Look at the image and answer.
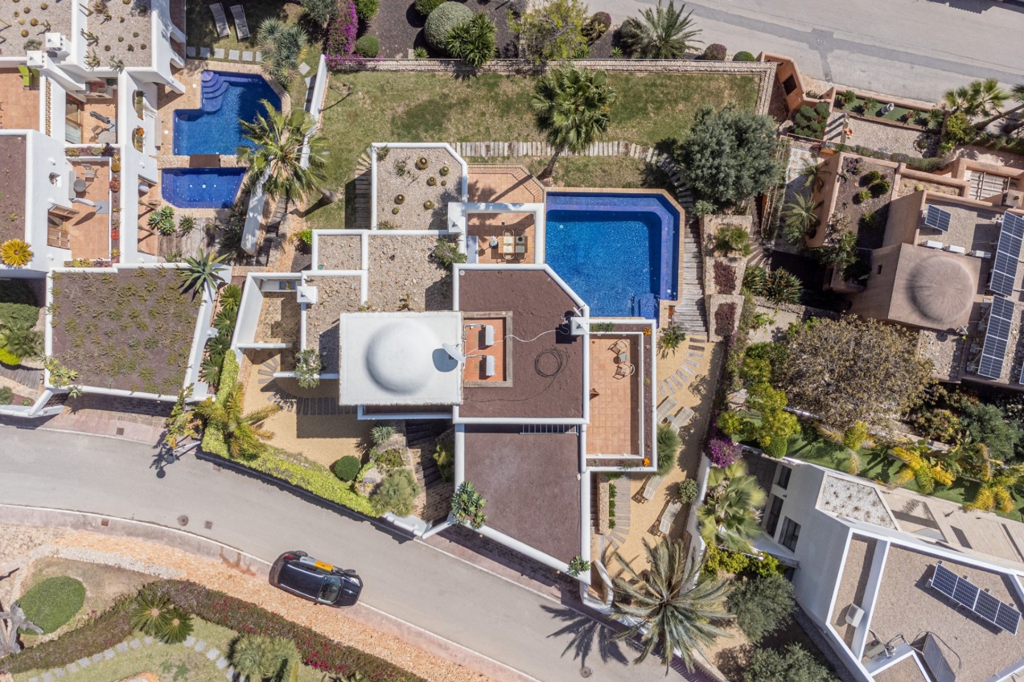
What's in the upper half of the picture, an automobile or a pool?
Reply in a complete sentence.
You can see a pool in the upper half of the picture.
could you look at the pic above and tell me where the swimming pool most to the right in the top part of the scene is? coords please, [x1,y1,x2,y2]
[546,193,679,320]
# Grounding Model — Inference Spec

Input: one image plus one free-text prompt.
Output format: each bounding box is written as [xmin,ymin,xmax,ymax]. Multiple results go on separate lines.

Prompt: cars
[268,549,364,614]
